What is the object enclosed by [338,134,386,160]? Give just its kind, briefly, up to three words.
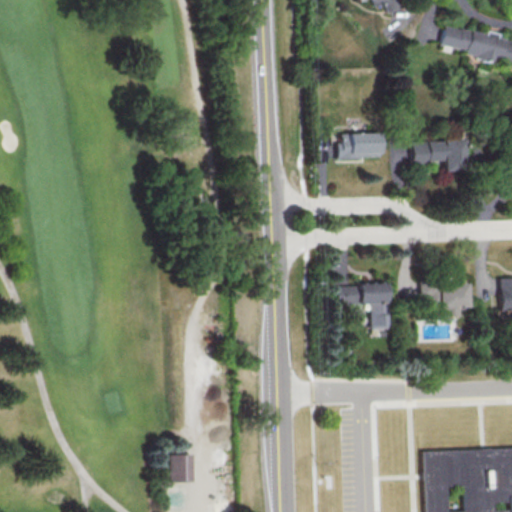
house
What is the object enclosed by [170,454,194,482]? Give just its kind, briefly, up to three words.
barn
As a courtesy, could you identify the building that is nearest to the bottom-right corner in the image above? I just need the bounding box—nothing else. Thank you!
[423,447,512,512]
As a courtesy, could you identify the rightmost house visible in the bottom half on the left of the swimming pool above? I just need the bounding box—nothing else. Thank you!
[339,283,394,332]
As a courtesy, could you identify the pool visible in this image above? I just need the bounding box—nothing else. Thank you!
[417,318,459,344]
